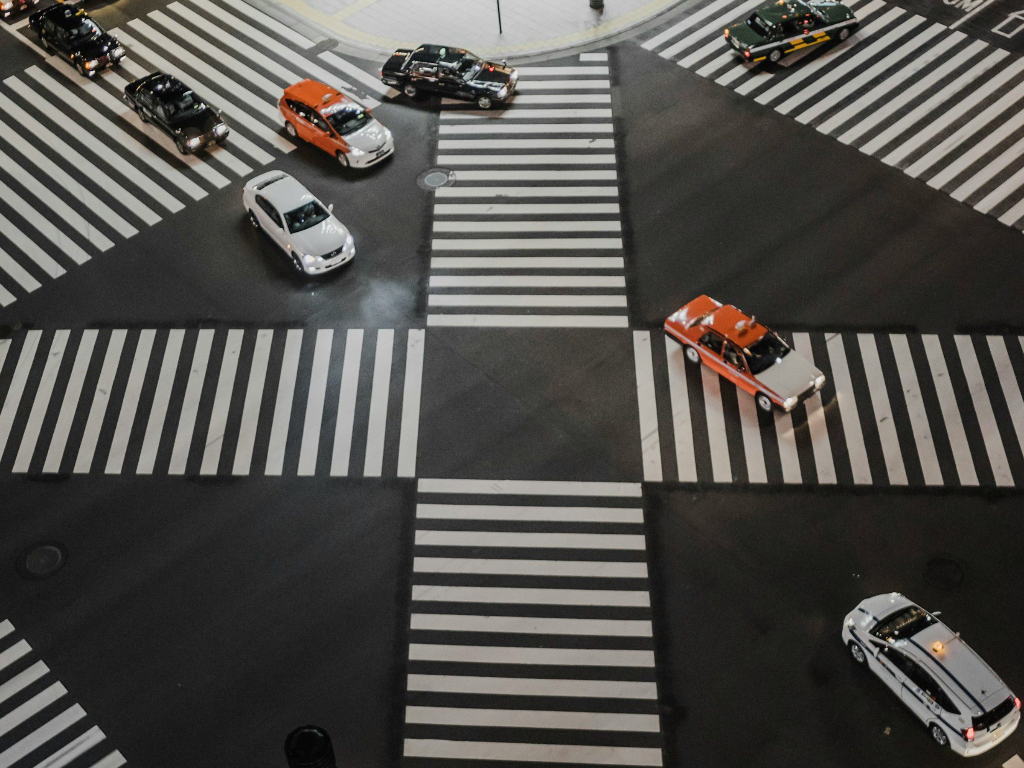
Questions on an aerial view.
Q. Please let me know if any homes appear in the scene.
No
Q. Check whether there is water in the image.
No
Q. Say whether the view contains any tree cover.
No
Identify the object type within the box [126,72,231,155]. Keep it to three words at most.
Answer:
car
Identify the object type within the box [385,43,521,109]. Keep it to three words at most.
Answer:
car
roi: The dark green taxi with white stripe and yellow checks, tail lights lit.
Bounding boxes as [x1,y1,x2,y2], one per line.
[727,0,858,64]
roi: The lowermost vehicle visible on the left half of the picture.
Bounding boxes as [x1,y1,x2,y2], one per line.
[241,171,354,275]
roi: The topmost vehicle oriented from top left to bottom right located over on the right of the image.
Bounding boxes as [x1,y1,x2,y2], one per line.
[666,299,824,416]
